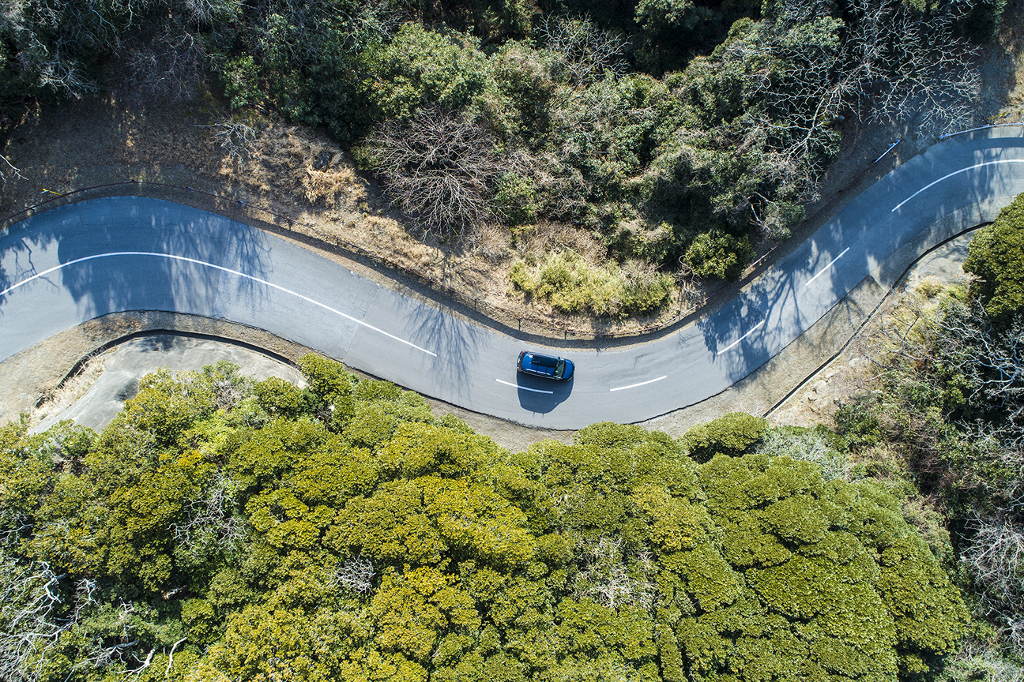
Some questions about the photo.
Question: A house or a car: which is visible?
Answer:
car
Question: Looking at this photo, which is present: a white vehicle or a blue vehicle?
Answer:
blue vehicle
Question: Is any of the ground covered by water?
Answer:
No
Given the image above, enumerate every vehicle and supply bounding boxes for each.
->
[517,352,574,381]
